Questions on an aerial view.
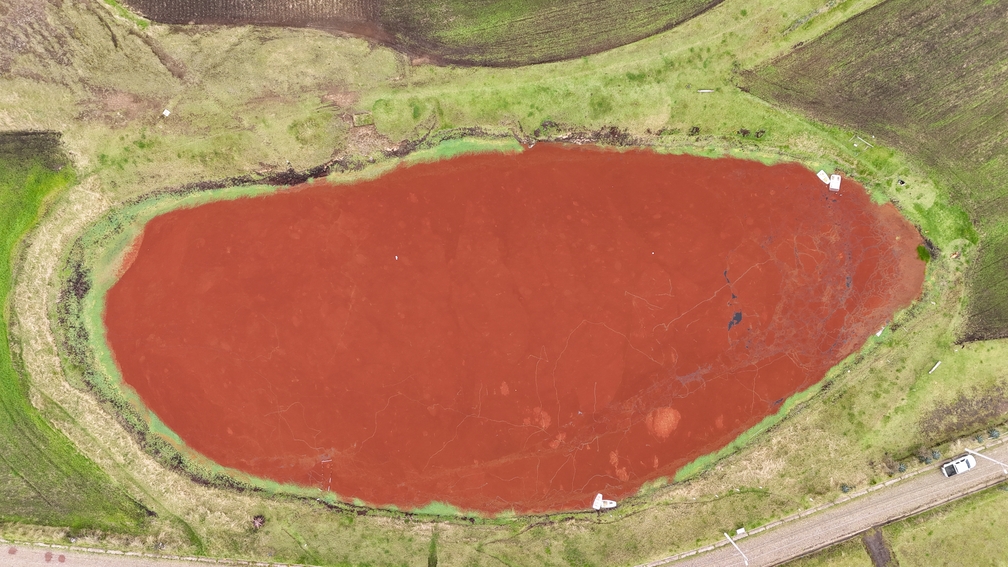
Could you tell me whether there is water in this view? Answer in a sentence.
Yes, some water is visible.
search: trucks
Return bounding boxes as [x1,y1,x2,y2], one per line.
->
[941,456,976,479]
